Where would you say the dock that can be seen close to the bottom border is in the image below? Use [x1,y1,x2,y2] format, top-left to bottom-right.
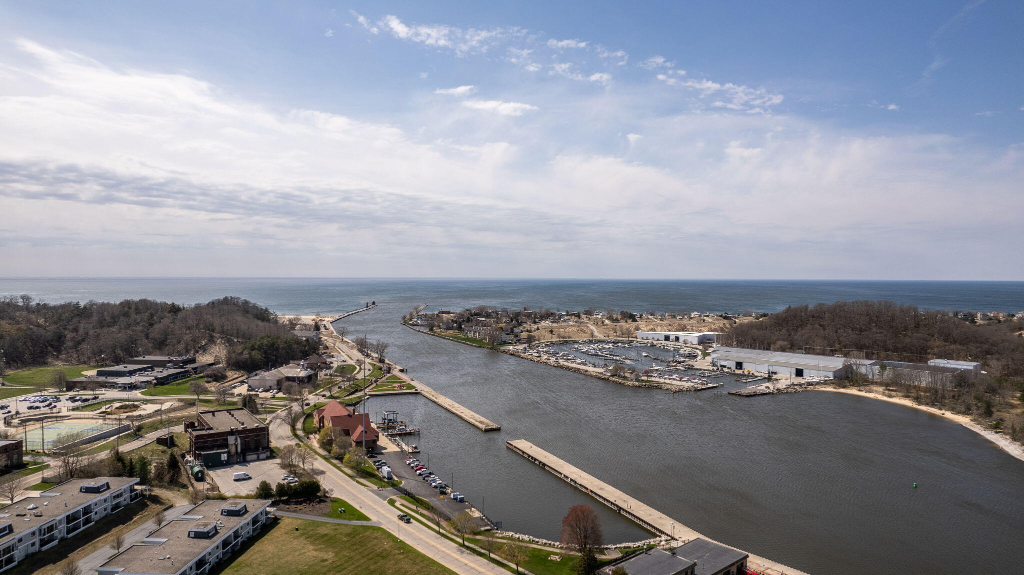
[504,440,808,575]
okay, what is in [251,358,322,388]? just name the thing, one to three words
building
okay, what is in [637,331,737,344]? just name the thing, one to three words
building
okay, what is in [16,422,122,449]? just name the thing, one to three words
sports court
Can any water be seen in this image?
Yes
